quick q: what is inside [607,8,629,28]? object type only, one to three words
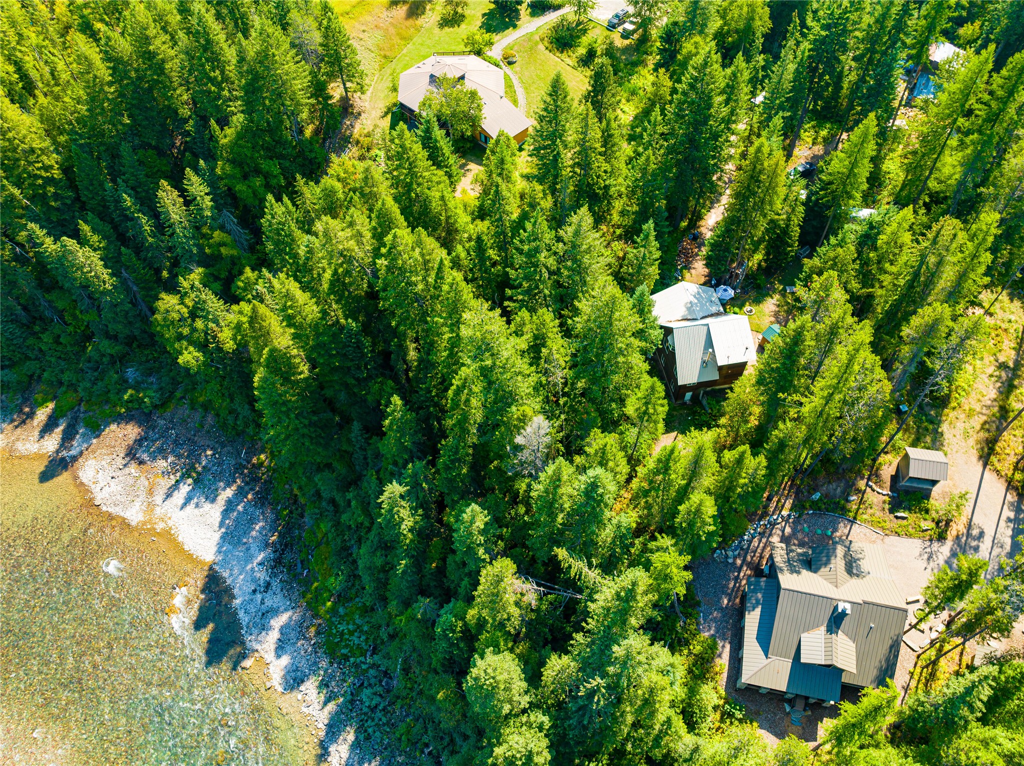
car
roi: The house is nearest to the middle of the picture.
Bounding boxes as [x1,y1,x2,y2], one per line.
[648,280,757,405]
